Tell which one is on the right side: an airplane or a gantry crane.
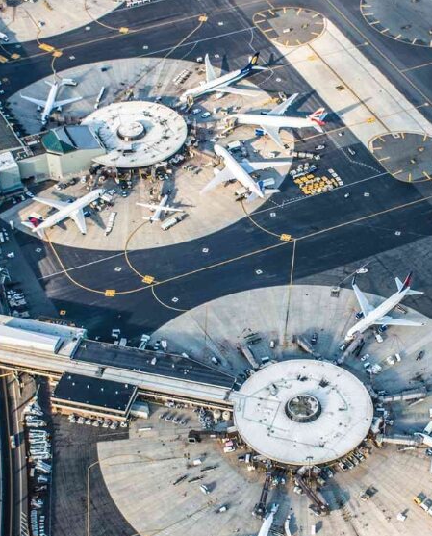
airplane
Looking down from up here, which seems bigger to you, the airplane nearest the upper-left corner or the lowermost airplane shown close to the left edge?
the lowermost airplane shown close to the left edge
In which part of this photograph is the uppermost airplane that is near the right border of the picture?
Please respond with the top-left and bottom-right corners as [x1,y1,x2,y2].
[347,272,431,339]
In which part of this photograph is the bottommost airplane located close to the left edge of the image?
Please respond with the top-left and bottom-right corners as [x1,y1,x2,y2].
[19,188,104,234]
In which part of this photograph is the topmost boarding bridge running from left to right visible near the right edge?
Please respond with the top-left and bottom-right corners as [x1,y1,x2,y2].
[372,383,429,408]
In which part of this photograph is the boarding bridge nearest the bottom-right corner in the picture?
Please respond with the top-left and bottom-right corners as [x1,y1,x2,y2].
[374,433,422,449]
